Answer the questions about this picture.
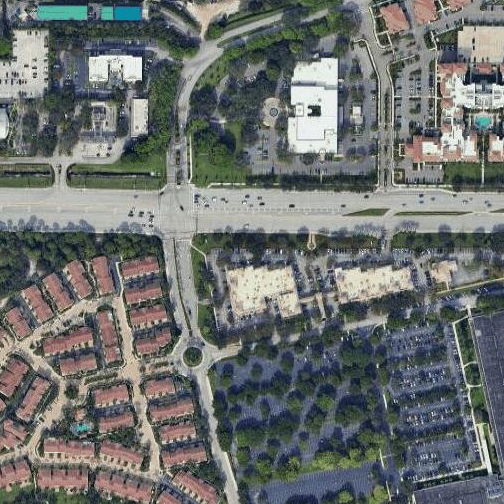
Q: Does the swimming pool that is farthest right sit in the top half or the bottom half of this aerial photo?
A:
top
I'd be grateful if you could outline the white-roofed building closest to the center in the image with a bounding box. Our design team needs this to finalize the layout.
[228,266,301,318]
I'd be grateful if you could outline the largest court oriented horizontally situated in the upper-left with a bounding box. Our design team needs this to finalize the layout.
[37,5,87,20]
